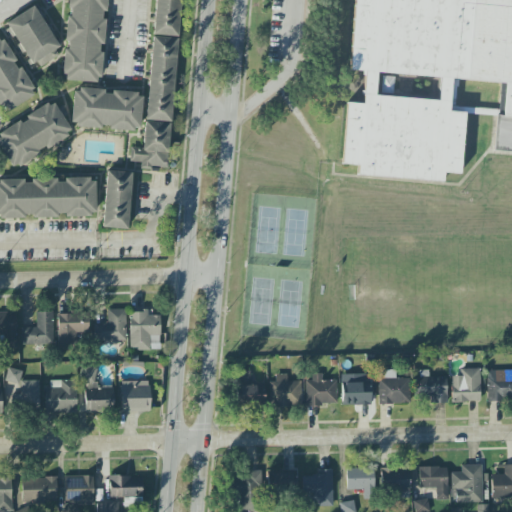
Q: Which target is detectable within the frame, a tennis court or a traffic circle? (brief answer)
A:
tennis court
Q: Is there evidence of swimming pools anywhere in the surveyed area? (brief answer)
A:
Yes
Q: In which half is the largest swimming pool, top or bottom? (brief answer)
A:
top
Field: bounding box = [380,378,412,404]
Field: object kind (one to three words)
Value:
house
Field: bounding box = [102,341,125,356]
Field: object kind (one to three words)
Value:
swimming pool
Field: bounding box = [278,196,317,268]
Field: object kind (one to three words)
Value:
tennis court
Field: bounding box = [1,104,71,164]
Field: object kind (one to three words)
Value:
building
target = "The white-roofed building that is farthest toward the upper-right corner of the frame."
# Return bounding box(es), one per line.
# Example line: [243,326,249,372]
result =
[342,0,512,182]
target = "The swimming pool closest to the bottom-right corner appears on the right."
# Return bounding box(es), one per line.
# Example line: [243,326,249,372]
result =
[450,354,467,376]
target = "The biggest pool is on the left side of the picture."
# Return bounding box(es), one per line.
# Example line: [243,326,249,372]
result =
[60,135,125,165]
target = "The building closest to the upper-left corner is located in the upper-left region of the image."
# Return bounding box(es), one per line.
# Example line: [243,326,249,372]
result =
[8,6,62,64]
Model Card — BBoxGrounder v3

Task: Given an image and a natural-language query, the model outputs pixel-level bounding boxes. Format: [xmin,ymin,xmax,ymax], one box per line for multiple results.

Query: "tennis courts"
[273,267,312,340]
[242,266,278,338]
[248,193,284,266]
[278,196,317,268]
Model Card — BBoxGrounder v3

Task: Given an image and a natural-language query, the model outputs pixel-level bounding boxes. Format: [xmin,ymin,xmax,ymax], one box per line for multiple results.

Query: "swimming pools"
[450,354,467,376]
[118,366,148,381]
[102,341,125,356]
[98,364,115,386]
[340,359,352,370]
[60,135,125,165]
